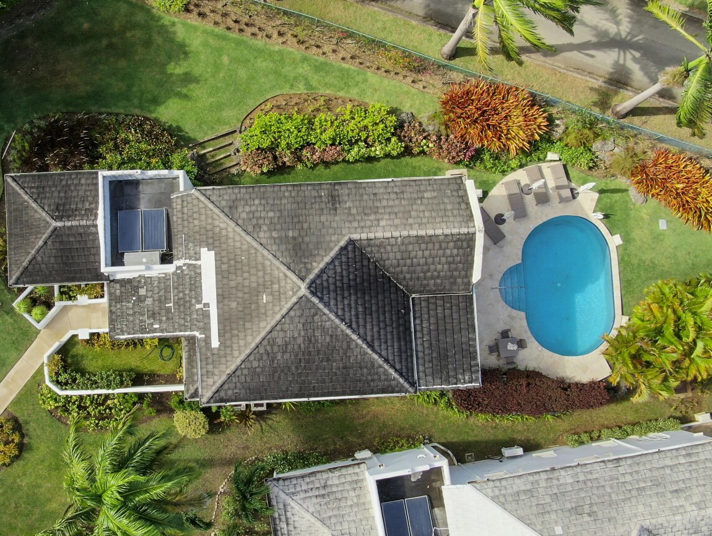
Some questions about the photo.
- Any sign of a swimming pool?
Yes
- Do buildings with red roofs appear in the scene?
No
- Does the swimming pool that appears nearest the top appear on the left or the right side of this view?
right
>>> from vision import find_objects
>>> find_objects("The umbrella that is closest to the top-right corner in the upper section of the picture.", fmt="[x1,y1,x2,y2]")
[569,186,597,199]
